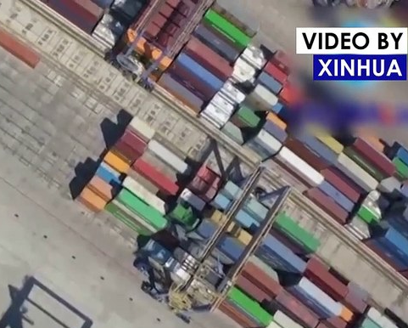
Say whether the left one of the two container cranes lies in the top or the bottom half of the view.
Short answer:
top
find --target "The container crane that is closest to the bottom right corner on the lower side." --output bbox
[146,166,299,308]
